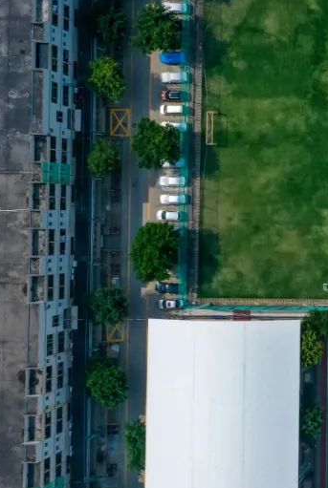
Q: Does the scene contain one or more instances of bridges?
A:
No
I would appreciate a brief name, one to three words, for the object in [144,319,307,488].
building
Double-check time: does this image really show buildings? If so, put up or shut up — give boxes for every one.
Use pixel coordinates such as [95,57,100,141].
[144,319,307,488]
[0,0,81,488]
